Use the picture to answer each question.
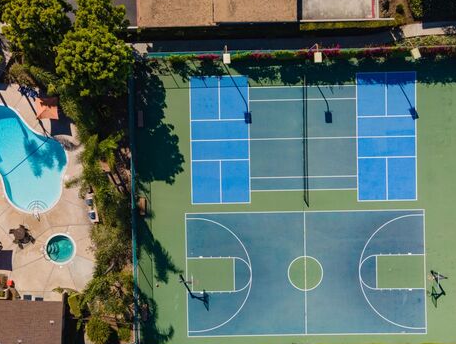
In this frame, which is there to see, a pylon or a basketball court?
basketball court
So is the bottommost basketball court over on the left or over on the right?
right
